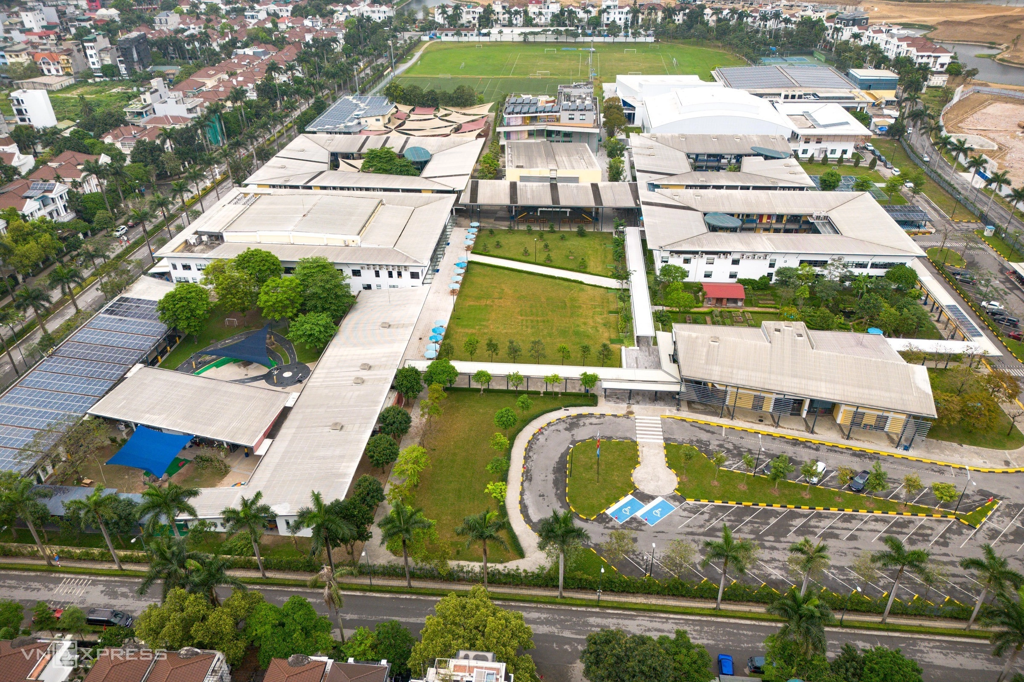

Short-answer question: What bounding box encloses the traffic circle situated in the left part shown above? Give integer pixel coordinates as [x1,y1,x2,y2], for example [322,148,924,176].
[260,360,313,388]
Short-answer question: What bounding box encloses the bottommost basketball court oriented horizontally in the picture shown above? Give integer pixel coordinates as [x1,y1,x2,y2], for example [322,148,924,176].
[809,175,889,199]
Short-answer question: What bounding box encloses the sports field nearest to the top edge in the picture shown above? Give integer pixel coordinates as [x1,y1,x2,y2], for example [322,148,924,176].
[396,42,759,82]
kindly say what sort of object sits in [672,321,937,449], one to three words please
building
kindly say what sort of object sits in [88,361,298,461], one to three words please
building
